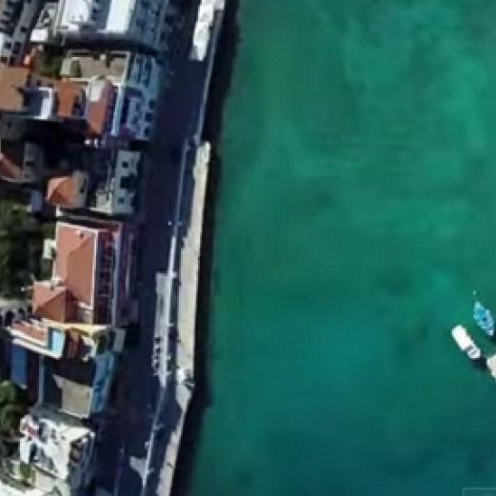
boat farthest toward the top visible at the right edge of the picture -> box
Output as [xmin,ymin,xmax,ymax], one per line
[474,302,493,337]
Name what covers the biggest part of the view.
water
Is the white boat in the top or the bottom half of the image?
bottom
